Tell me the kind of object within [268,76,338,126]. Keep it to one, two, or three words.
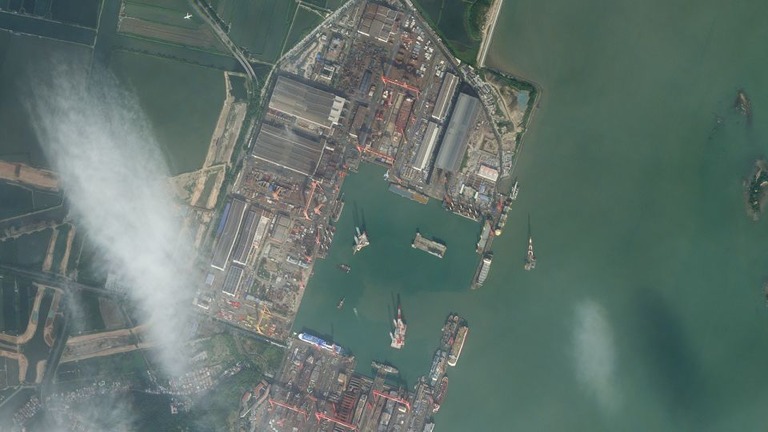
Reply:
building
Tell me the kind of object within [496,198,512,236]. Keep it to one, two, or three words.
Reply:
ship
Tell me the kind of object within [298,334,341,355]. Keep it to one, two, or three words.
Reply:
ship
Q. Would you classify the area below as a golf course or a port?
port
